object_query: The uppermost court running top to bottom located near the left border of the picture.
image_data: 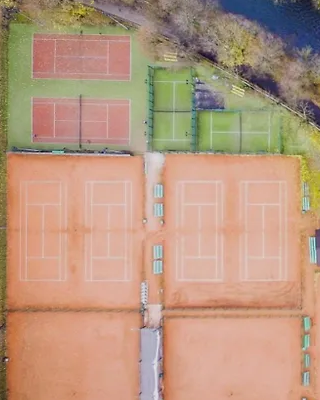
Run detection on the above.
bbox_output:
[8,155,75,308]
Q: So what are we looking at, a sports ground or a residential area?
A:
sports ground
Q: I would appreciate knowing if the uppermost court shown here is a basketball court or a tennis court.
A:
tennis court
